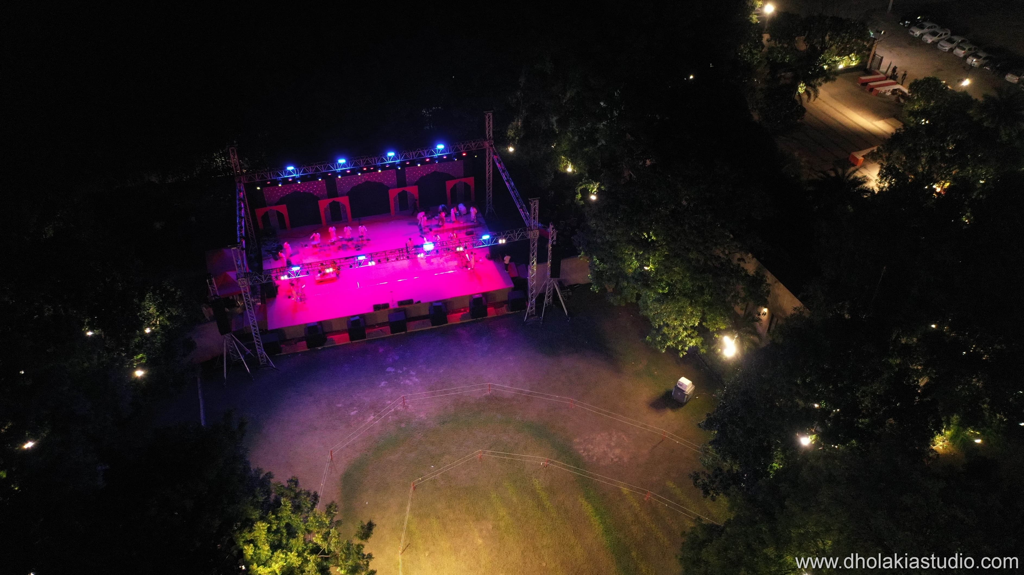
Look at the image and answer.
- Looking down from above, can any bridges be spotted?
No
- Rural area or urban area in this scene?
rural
